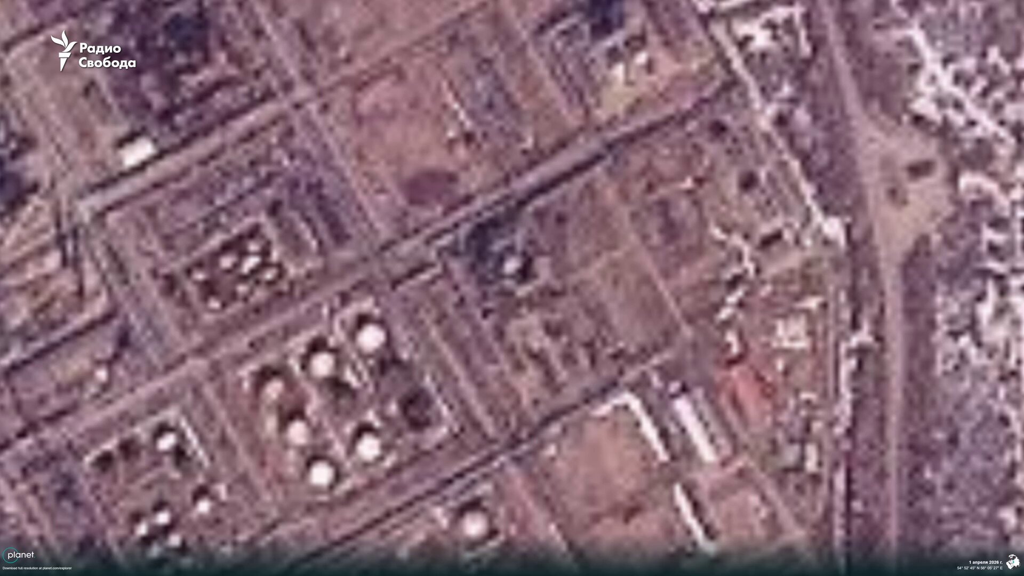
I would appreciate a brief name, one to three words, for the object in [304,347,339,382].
storage tank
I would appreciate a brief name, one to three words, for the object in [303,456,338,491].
storage tank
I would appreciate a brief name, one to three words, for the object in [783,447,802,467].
shed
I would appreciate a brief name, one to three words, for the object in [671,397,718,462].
shed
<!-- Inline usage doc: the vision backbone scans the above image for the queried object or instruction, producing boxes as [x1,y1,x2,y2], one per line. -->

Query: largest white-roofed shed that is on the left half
[120,138,154,166]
